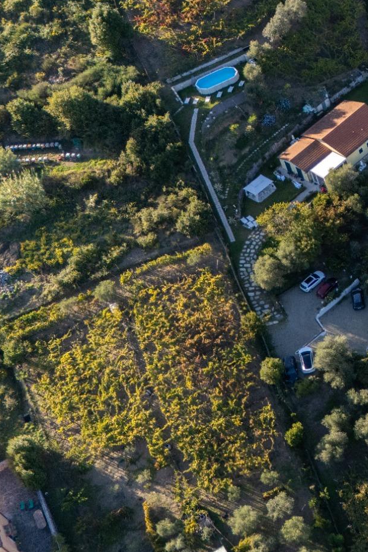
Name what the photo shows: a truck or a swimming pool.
swimming pool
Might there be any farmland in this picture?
Yes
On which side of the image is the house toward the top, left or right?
right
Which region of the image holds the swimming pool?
top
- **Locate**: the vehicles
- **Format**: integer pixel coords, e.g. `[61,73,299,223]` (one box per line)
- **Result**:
[295,343,314,374]
[298,267,327,292]
[348,284,364,309]
[280,352,300,382]
[313,274,341,299]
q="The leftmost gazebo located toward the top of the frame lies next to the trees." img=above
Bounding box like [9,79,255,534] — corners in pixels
[243,174,277,206]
